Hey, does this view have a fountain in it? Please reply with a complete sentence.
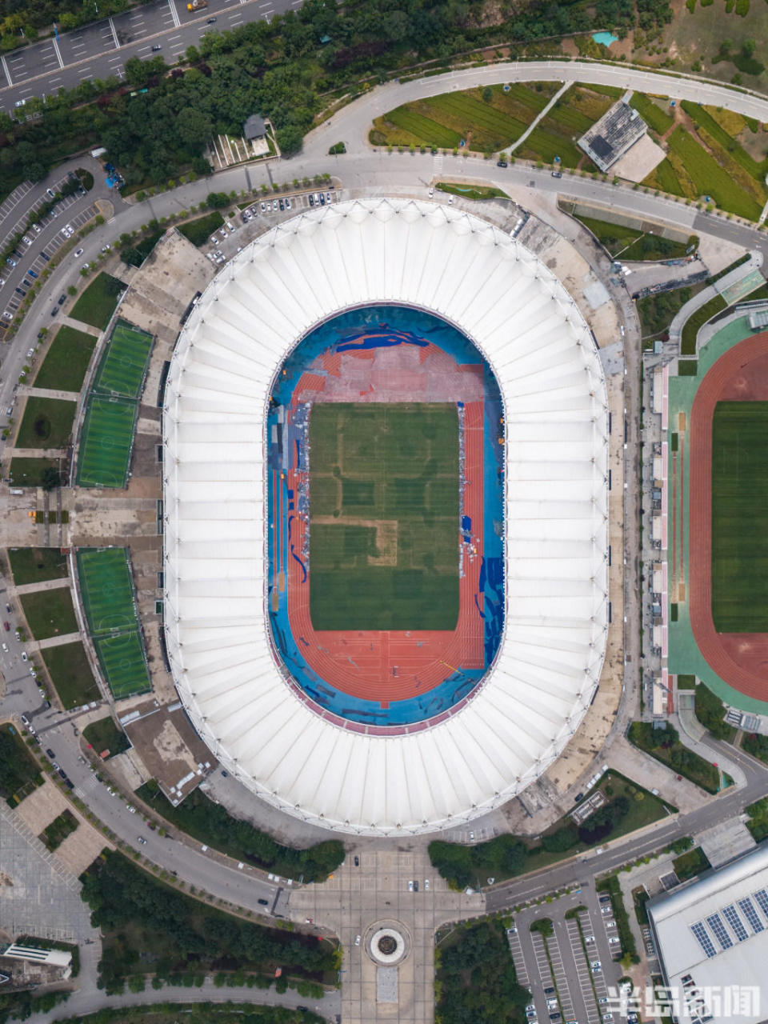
Yes, there's a fountain here.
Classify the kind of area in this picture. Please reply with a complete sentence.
What you see here is a sports ground.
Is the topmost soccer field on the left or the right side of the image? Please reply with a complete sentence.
The topmost soccer field sits on the left side.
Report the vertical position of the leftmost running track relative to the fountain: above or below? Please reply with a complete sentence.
Relative to the fountain, the leftmost running track lies above it.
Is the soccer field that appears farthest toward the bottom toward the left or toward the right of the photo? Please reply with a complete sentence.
You can find the soccer field that appears farthest toward the bottom on the left side of the picture.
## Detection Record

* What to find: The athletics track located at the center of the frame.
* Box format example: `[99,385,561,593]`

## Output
[269,315,504,724]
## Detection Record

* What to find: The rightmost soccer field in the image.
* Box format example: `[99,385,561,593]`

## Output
[712,401,768,633]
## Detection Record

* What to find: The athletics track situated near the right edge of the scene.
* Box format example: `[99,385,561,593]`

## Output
[668,318,768,715]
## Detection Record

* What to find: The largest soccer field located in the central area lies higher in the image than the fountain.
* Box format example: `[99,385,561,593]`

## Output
[309,402,470,630]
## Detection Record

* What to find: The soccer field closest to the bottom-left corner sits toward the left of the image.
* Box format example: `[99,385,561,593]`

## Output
[90,630,152,702]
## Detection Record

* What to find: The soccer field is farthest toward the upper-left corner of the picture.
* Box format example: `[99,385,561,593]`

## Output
[88,315,154,398]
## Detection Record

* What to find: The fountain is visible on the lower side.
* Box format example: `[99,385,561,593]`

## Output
[364,922,411,970]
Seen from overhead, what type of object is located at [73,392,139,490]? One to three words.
soccer field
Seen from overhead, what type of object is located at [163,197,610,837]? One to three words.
stadium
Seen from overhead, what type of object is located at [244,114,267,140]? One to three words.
building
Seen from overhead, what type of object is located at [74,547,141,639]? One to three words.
soccer field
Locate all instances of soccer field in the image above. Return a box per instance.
[73,392,139,490]
[712,401,768,633]
[90,630,152,702]
[88,315,154,398]
[309,402,470,630]
[74,547,141,639]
